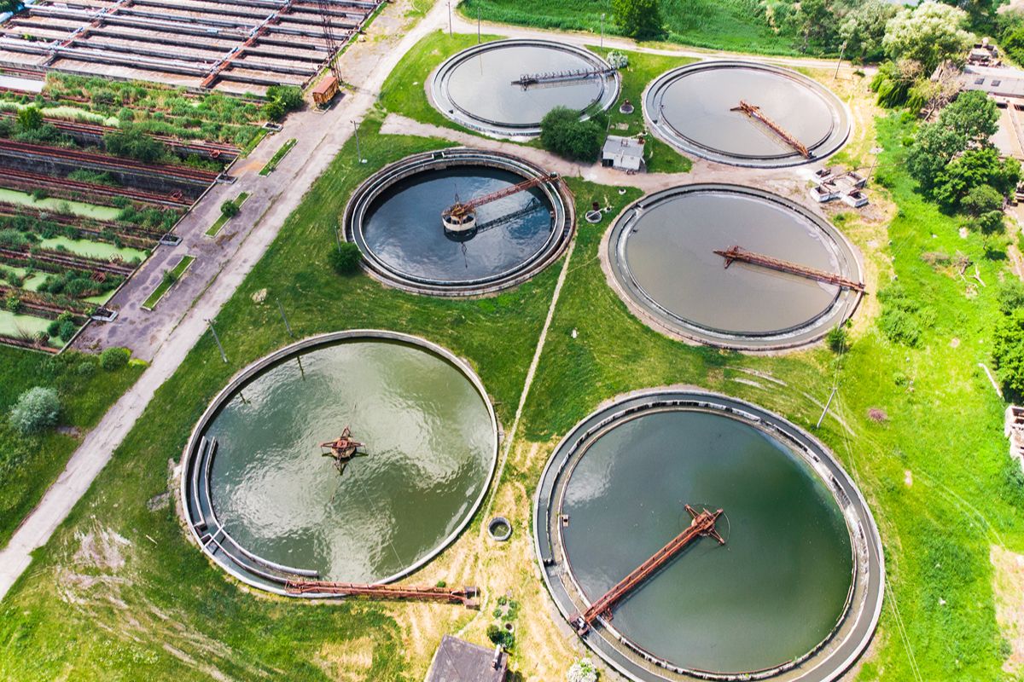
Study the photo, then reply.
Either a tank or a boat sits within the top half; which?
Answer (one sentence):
It is a tank that can be seen within the top half.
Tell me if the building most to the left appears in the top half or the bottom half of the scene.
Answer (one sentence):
The bottom half of the photo is where the building most to the left is.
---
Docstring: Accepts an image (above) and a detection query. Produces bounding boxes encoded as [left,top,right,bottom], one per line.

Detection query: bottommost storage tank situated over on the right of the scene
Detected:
[534,390,882,682]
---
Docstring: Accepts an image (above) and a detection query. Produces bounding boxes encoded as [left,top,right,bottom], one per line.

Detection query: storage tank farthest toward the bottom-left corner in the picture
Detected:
[183,328,496,595]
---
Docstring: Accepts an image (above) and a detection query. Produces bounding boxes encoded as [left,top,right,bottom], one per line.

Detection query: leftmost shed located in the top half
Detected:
[602,133,647,175]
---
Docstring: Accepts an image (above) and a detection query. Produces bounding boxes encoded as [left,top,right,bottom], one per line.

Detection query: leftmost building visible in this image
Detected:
[429,635,507,682]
